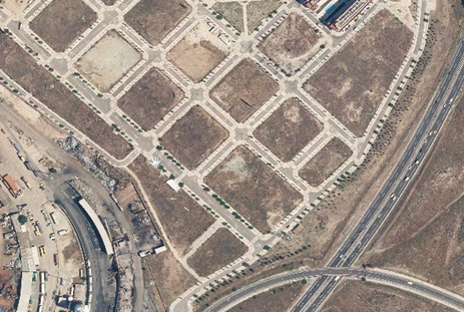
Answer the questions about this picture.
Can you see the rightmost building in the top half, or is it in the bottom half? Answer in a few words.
top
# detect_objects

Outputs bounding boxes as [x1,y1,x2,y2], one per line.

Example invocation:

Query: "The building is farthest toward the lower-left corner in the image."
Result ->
[19,273,33,312]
